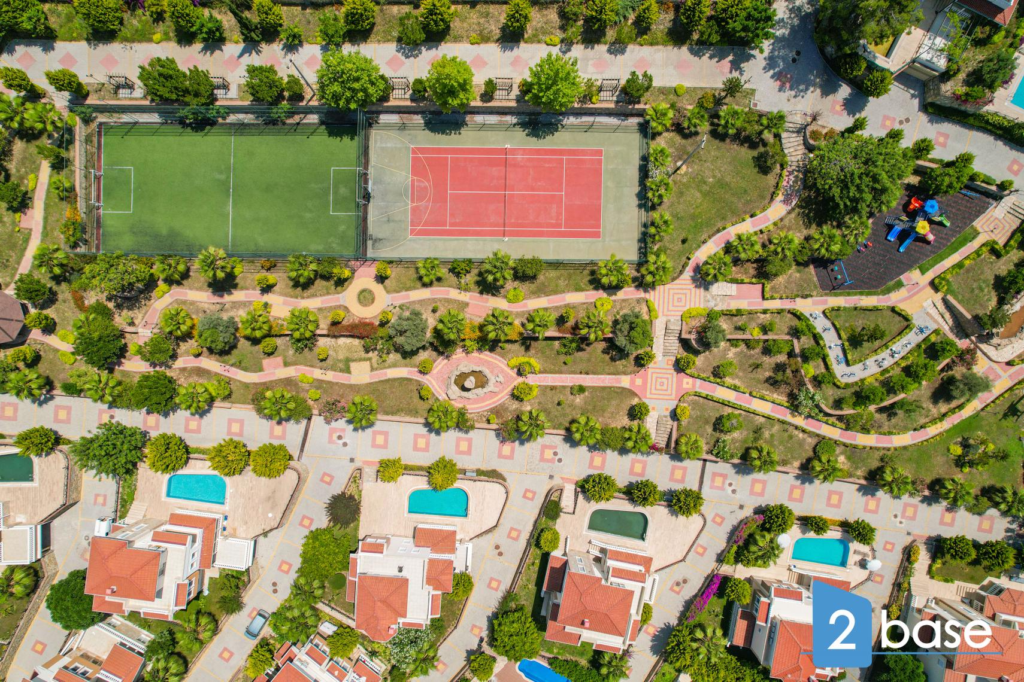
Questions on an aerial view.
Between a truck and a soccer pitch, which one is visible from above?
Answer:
soccer pitch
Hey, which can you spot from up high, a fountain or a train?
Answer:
fountain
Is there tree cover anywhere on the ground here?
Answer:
Yes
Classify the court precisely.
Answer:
tennis court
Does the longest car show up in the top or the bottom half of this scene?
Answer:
bottom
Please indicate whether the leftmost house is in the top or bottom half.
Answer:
bottom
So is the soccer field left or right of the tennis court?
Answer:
on its left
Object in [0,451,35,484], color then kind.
green swimming pool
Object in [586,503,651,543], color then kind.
green swimming pool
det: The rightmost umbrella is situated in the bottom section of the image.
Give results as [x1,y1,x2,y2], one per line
[862,556,881,573]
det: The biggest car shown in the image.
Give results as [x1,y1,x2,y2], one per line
[246,607,271,641]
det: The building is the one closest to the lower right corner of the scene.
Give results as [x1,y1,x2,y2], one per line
[897,579,1024,682]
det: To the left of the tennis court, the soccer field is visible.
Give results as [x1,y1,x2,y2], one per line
[95,122,368,257]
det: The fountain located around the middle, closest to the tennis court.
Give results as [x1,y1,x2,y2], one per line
[446,362,498,399]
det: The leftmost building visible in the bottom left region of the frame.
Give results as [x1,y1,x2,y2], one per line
[0,502,57,567]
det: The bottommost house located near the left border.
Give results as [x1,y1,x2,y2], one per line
[21,613,167,682]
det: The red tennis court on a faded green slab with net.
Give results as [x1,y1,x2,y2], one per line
[366,121,639,262]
